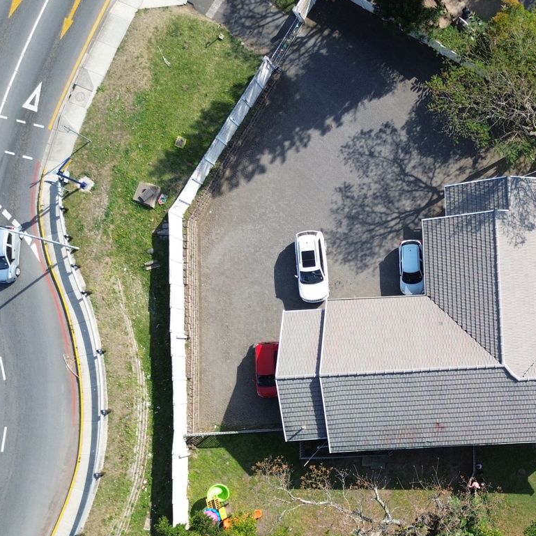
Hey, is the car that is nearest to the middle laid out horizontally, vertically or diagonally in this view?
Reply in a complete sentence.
The car that is nearest to the middle has been laid out vertically relative to the frame.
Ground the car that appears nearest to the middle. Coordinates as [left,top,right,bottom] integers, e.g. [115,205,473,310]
[295,230,331,302]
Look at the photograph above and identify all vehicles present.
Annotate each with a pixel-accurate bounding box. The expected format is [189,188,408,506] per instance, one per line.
[394,239,423,296]
[0,226,28,285]
[252,340,280,401]
[295,230,331,302]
